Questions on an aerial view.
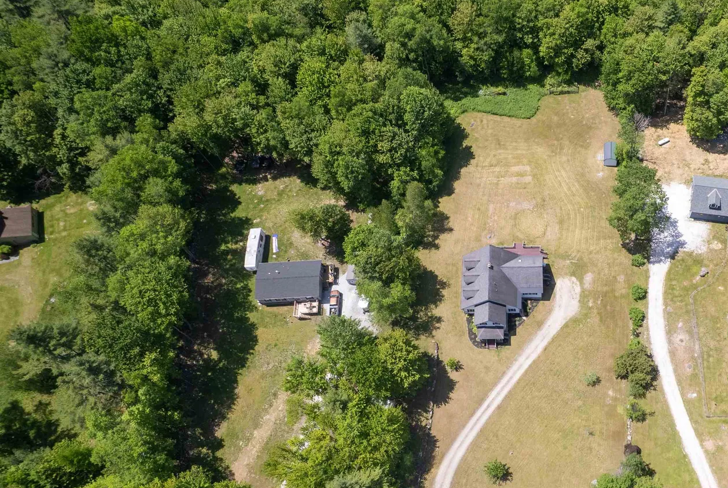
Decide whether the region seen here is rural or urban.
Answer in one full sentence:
The area is rural.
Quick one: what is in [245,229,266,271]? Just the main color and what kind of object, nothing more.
white trailer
